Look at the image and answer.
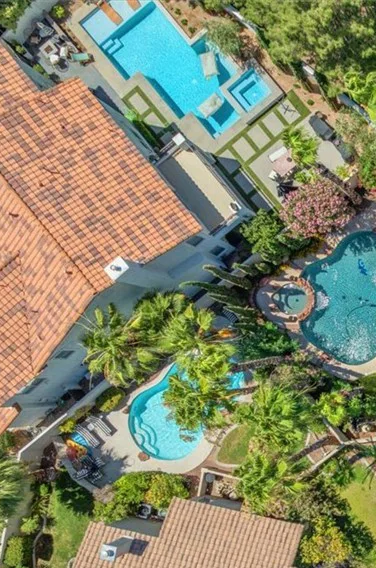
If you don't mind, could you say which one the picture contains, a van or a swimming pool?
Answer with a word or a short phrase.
swimming pool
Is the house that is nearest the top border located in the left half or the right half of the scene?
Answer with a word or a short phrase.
left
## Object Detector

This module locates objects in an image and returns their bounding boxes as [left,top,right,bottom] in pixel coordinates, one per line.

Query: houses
[69,496,306,568]
[0,42,256,440]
